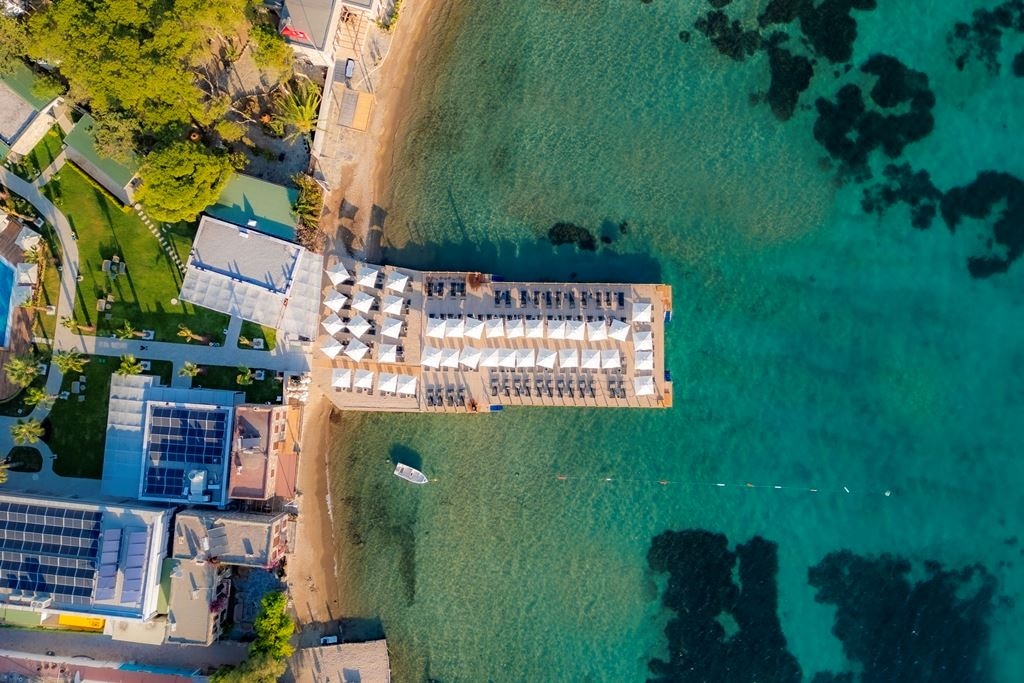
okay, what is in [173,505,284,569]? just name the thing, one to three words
house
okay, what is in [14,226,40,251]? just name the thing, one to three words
umbrella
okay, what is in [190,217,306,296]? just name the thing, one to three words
building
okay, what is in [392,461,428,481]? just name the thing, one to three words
boat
